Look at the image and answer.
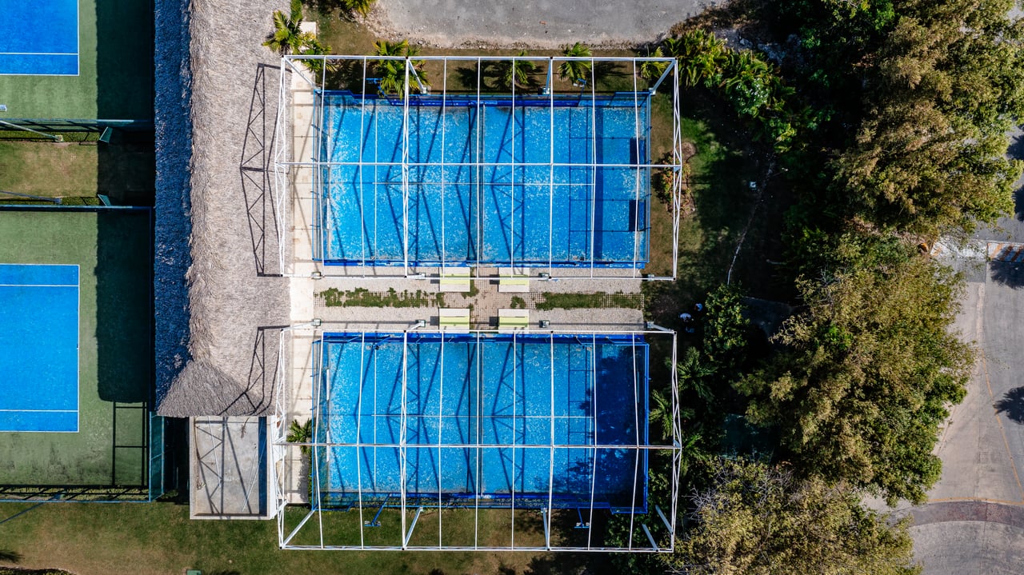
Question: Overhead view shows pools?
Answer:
No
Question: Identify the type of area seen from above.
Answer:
sports ground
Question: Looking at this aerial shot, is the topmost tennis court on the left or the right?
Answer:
left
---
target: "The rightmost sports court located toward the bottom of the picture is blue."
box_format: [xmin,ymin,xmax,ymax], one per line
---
[307,333,655,512]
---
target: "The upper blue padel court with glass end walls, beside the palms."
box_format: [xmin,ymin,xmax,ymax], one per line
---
[307,90,655,267]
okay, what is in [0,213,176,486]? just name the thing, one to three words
tennis court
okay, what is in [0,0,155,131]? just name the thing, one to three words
tennis court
